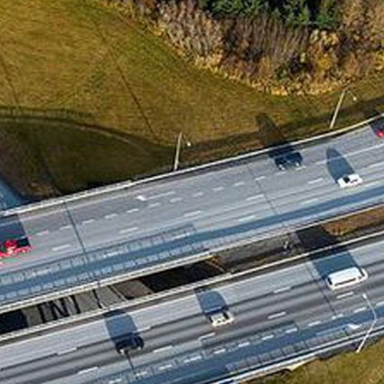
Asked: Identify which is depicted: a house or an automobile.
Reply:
automobile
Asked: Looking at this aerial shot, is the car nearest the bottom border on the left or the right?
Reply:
left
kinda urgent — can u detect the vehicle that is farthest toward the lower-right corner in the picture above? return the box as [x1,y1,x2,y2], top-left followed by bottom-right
[327,266,365,288]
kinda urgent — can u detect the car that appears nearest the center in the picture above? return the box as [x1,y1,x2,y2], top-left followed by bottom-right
[274,152,303,170]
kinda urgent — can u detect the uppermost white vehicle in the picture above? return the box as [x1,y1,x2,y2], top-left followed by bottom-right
[336,172,362,188]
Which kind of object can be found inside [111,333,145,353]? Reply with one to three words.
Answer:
car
